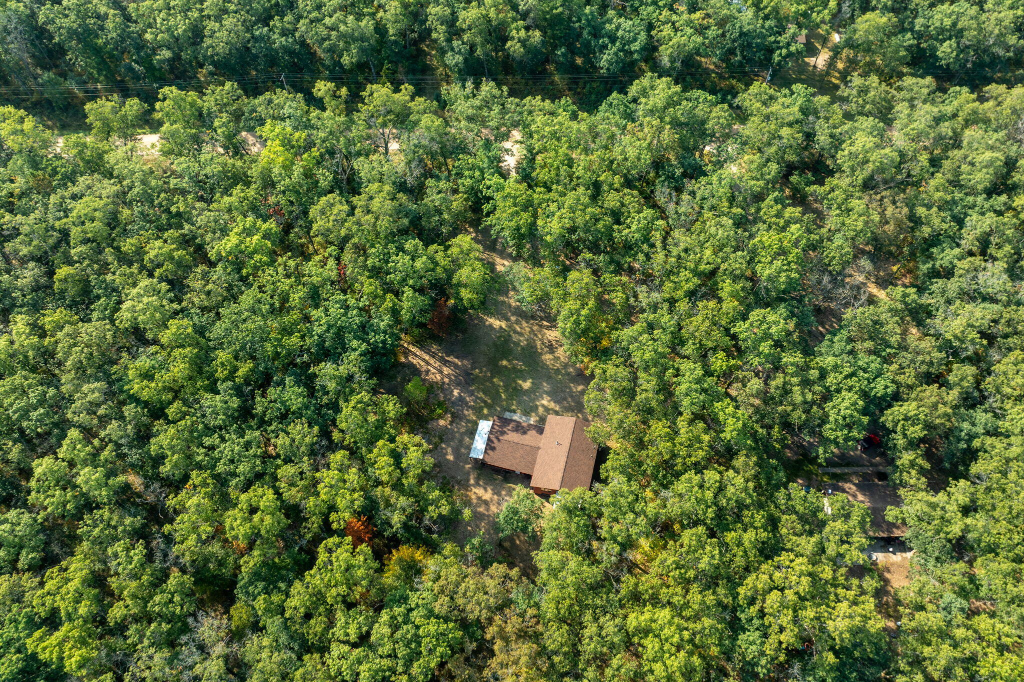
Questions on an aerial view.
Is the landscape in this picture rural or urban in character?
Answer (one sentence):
The area is rural.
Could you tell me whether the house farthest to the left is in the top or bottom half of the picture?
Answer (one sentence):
You can find the house farthest to the left in the bottom half.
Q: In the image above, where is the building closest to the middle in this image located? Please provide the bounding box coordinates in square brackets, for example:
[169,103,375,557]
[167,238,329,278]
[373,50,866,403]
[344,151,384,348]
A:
[469,415,600,501]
